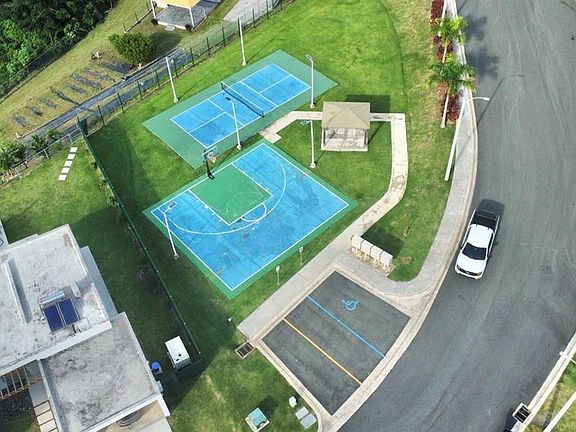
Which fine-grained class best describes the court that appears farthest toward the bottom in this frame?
basketball court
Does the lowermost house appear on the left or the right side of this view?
left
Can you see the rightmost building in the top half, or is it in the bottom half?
top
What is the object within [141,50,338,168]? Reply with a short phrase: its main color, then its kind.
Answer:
blue sports court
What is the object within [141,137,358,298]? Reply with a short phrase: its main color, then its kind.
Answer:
blue basketball court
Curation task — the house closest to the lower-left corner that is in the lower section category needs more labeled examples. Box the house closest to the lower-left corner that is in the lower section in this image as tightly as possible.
[0,224,179,432]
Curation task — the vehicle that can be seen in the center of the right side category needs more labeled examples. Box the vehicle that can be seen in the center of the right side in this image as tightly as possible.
[457,208,501,276]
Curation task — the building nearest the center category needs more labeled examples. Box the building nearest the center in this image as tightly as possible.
[321,102,371,151]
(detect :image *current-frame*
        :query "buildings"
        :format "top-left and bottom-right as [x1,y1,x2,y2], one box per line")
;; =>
[321,102,371,151]
[0,224,179,432]
[133,0,224,32]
